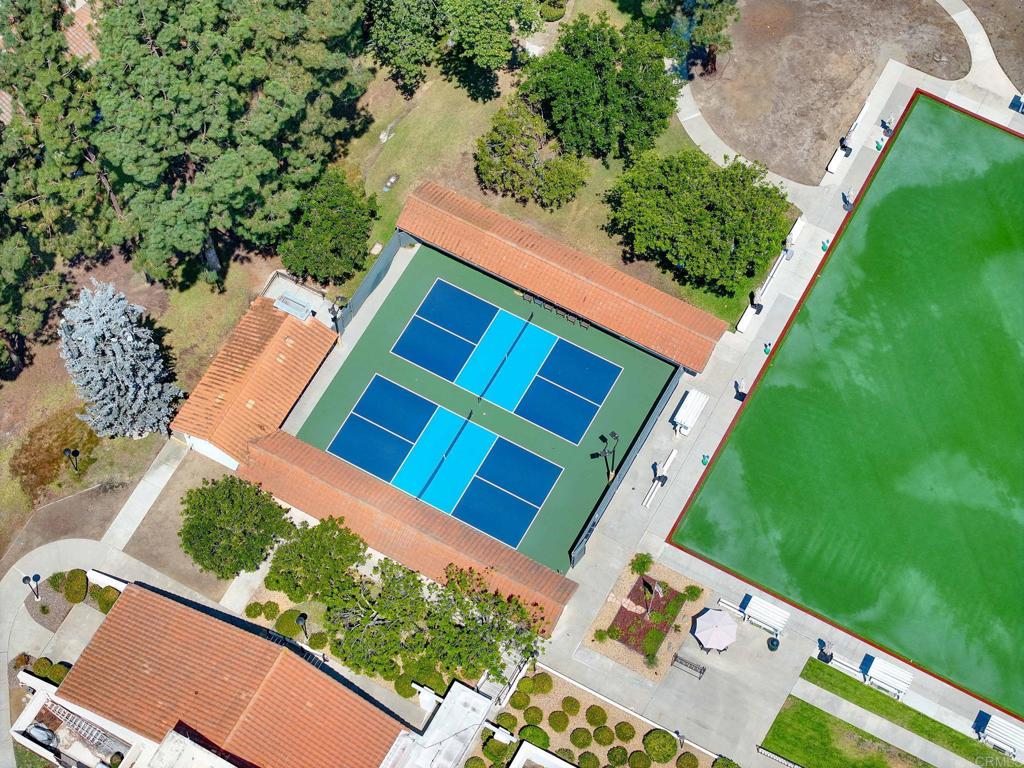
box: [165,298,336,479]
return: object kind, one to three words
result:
house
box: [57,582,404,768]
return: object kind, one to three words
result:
house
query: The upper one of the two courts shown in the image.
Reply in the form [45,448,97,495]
[390,277,624,446]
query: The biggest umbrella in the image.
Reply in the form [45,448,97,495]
[694,611,736,650]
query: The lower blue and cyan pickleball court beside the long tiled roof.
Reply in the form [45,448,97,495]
[326,373,565,549]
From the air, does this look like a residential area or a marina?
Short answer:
residential area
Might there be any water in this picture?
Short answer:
No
